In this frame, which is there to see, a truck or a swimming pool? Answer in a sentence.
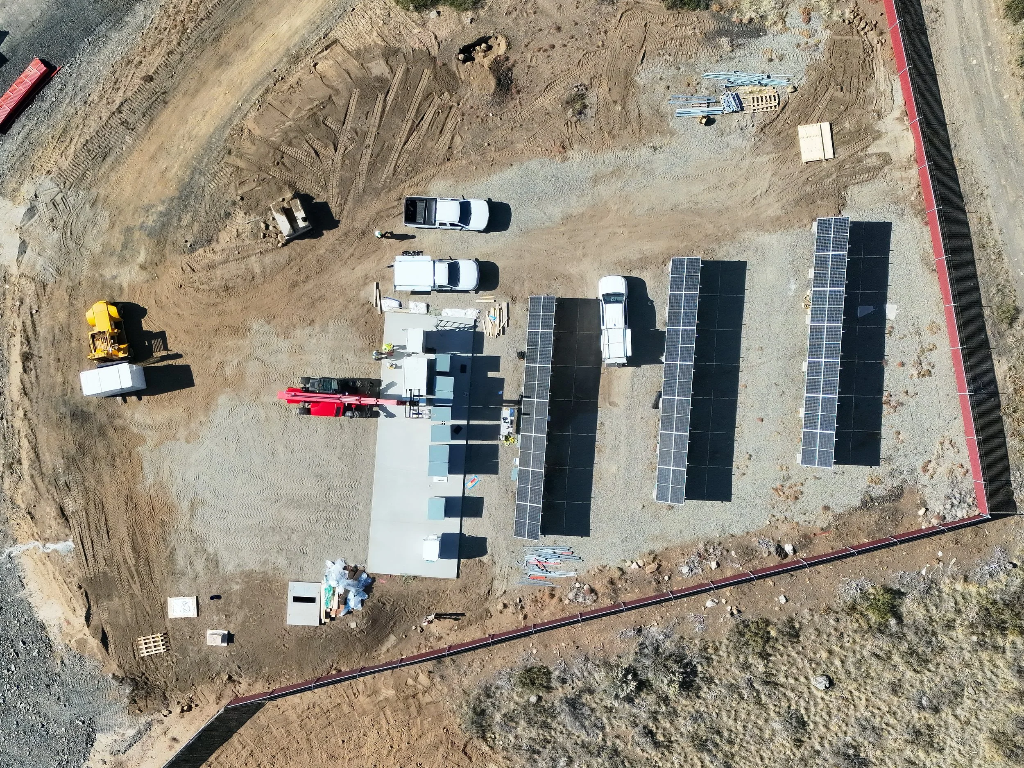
There is a truck in the scene.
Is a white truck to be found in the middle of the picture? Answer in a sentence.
Yes, a white truck is visible in the middle of the picture.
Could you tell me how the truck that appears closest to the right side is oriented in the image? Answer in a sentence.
The truck that appears closest to the right side is oriented up and down.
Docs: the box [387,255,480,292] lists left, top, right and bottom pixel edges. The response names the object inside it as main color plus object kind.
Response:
white truck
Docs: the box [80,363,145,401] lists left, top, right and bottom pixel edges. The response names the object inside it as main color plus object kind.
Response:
white trailer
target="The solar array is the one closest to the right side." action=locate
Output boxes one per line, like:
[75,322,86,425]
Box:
[795,215,853,470]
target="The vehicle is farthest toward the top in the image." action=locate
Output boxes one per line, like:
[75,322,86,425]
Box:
[403,193,491,231]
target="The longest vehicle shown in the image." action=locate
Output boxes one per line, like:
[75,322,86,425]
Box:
[275,376,431,422]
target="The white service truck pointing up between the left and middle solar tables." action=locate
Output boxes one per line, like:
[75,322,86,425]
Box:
[595,278,635,370]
